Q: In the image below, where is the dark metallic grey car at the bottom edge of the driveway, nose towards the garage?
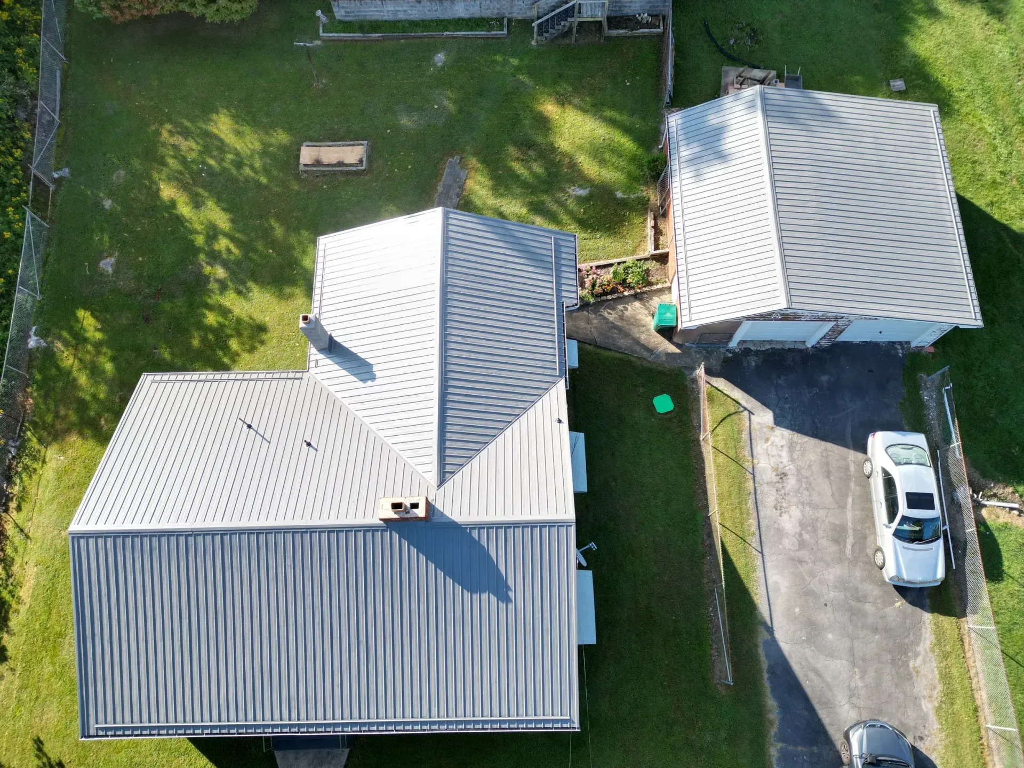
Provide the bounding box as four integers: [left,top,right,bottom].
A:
[839,712,923,768]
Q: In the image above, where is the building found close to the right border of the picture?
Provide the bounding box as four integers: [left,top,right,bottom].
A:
[663,83,985,344]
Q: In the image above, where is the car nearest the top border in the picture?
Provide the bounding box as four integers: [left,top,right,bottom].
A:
[863,436,953,593]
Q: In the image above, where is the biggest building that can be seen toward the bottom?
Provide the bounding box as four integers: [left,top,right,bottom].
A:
[64,204,596,760]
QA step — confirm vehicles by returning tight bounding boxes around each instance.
[839,712,923,768]
[863,436,953,593]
